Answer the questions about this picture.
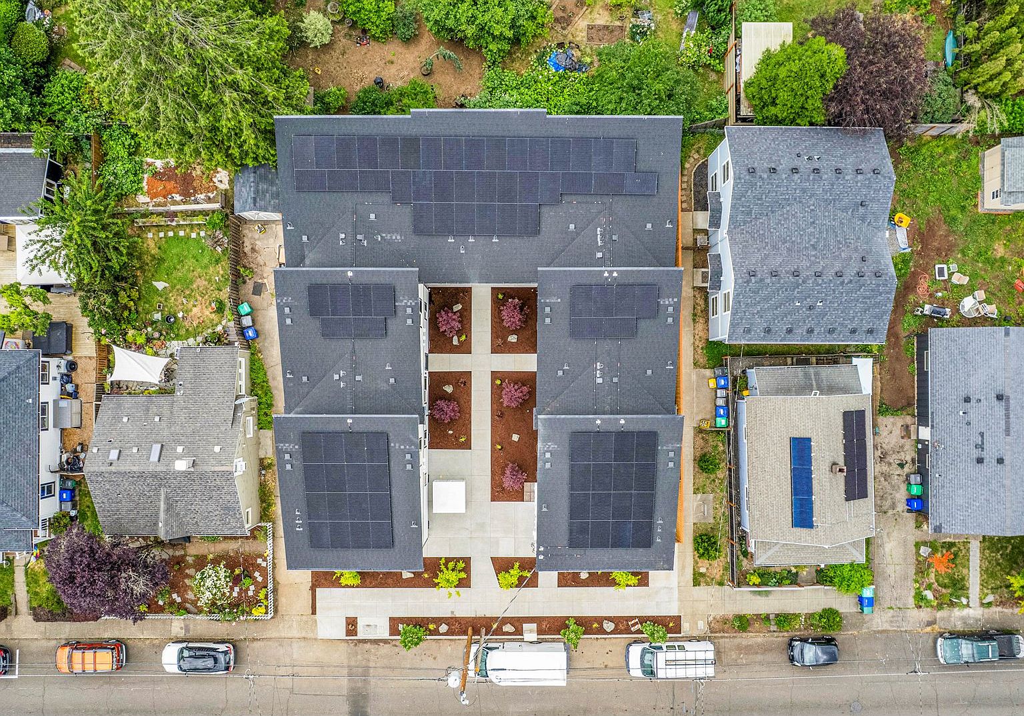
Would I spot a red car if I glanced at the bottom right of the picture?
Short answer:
No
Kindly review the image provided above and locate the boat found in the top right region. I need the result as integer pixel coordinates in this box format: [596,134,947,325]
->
[941,30,956,67]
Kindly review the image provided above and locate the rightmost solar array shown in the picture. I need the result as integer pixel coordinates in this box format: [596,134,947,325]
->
[844,410,869,501]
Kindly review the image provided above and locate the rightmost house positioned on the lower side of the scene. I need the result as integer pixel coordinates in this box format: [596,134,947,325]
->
[916,328,1024,538]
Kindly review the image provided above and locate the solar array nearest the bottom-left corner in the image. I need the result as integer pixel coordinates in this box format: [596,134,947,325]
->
[300,434,394,554]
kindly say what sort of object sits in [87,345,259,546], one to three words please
house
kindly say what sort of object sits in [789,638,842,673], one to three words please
car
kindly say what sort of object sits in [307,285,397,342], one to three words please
solar array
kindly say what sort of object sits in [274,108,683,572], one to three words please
building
